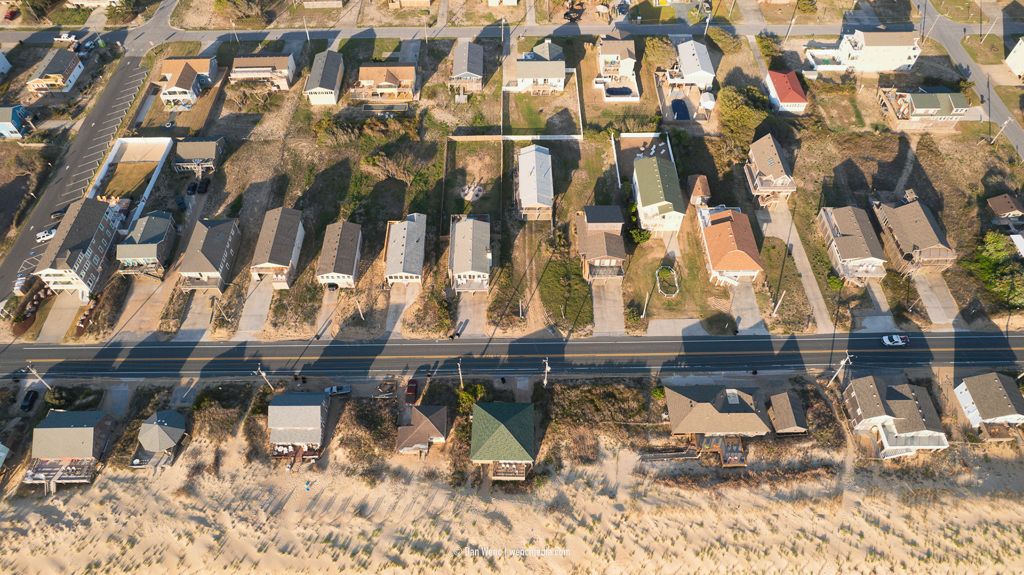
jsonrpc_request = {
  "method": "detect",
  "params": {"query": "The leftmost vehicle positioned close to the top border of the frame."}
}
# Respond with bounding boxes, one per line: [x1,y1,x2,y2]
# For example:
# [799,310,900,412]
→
[3,10,17,22]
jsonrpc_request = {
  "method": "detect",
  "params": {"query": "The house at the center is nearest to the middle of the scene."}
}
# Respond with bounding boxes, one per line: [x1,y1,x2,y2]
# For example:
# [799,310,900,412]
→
[447,217,491,303]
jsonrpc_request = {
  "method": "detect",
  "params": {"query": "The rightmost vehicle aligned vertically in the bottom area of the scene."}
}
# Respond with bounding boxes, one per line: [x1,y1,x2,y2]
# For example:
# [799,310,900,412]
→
[405,378,419,406]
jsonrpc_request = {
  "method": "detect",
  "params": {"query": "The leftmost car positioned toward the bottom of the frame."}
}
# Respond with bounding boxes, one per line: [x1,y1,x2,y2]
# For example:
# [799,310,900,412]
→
[18,388,40,412]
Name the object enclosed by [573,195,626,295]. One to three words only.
house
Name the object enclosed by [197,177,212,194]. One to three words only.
car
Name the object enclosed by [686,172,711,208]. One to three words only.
shed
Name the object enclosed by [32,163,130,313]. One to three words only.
building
